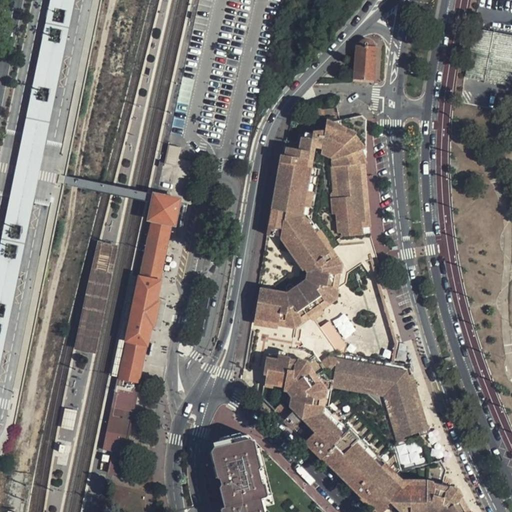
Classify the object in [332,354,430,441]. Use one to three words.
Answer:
building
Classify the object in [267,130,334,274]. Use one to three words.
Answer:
building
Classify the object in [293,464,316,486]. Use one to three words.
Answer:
truck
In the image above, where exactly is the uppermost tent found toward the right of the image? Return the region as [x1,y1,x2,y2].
[332,313,356,339]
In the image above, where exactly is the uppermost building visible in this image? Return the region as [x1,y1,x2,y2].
[352,36,377,84]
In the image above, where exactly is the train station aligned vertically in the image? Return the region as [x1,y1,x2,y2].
[112,192,182,384]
